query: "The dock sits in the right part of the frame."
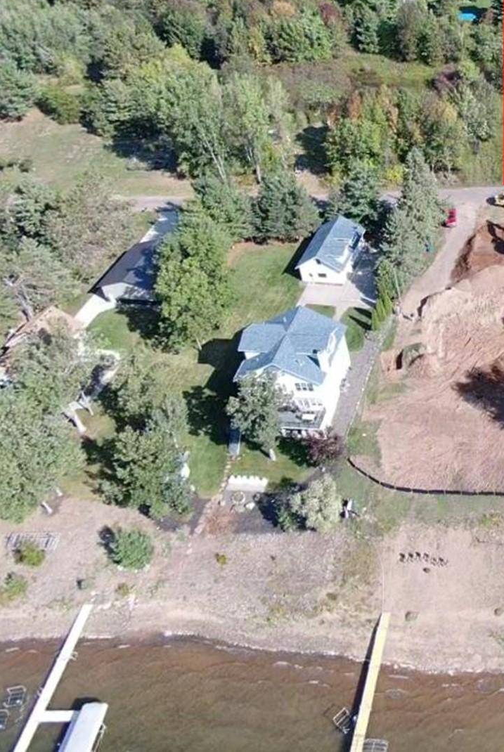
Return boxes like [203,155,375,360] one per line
[352,615,392,752]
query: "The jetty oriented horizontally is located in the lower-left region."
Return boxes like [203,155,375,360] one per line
[45,710,78,724]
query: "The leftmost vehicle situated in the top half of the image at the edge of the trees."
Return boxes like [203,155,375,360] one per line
[445,206,458,227]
